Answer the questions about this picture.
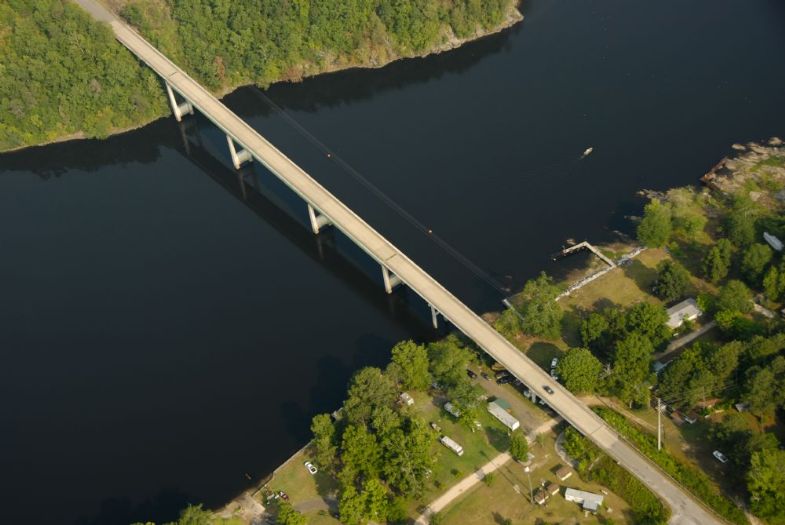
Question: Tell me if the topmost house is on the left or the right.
right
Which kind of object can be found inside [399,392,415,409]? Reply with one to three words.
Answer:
camper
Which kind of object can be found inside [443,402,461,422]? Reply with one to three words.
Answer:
camper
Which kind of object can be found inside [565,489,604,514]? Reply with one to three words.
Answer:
house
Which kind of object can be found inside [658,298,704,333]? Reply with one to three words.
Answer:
house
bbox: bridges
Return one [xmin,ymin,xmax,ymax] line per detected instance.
[107,15,632,460]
